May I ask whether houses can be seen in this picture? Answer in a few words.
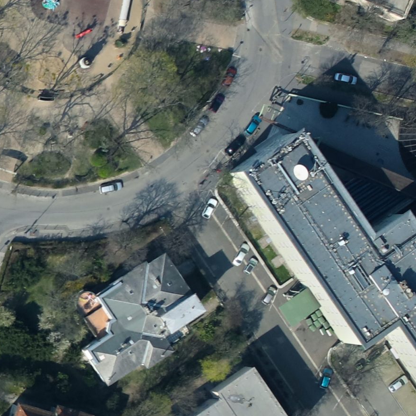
Yes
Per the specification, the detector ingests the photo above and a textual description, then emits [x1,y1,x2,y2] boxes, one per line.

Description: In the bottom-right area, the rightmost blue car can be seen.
[318,366,333,391]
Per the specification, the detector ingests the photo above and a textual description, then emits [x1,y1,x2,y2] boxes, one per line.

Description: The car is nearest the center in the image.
[199,195,220,221]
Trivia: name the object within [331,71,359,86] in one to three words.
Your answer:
car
